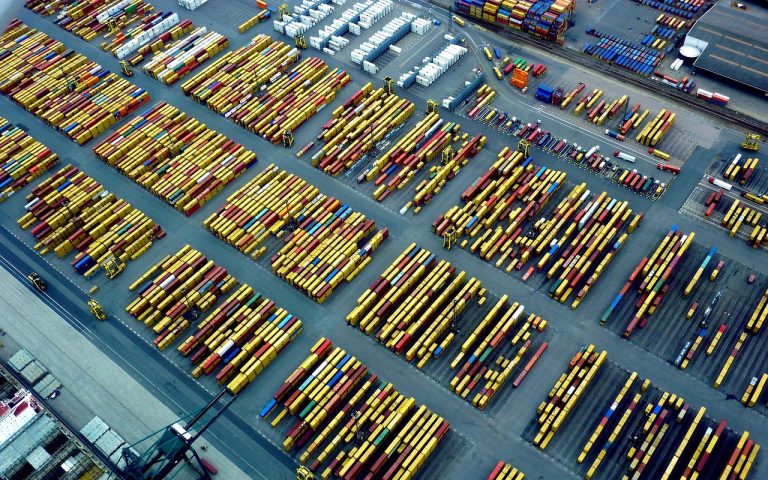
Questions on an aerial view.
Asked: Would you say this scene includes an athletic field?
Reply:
No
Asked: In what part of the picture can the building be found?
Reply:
top right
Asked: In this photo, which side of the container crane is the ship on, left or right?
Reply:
on the left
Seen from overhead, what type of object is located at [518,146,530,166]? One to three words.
vehicle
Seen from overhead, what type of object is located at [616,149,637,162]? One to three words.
vehicle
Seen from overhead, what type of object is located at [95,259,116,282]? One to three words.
work vehicle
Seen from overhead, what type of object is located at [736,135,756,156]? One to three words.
work vehicle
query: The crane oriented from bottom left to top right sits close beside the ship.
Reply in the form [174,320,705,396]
[106,383,245,480]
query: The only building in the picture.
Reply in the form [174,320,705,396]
[682,1,768,100]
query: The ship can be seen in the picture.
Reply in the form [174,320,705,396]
[0,368,117,480]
